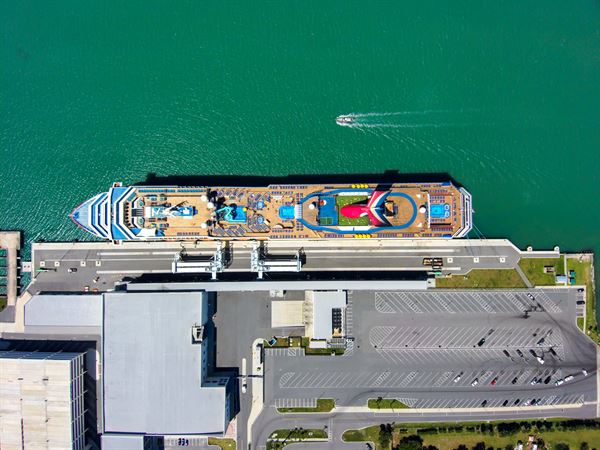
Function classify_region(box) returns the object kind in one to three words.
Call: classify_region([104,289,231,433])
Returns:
building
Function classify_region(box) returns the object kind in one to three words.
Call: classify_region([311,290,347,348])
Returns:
building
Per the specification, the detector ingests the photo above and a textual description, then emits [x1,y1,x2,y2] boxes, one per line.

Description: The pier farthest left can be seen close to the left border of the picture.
[0,231,22,300]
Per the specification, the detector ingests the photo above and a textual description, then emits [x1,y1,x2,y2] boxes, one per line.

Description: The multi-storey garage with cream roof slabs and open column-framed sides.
[0,350,88,450]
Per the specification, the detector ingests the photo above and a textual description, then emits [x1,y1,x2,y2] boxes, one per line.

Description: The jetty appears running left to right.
[32,237,561,294]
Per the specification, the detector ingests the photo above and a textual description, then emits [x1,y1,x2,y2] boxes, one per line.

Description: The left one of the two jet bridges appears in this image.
[172,241,227,281]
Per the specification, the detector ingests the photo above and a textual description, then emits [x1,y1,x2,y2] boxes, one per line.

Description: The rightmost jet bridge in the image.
[251,241,306,281]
